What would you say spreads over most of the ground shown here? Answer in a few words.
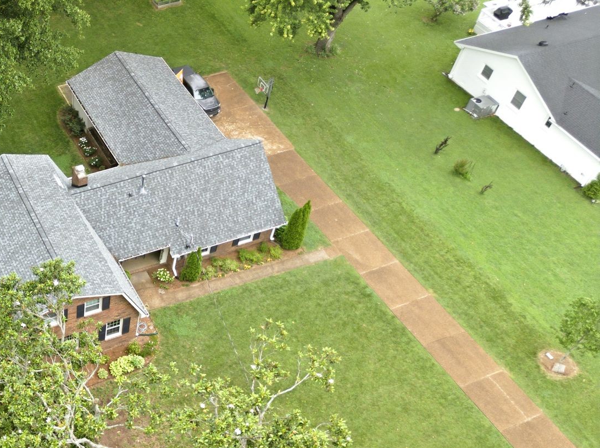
grass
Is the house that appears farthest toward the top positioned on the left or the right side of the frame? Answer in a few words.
right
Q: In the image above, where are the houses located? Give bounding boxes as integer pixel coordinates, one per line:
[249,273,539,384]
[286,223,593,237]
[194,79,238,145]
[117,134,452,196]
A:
[0,52,288,369]
[449,5,600,186]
